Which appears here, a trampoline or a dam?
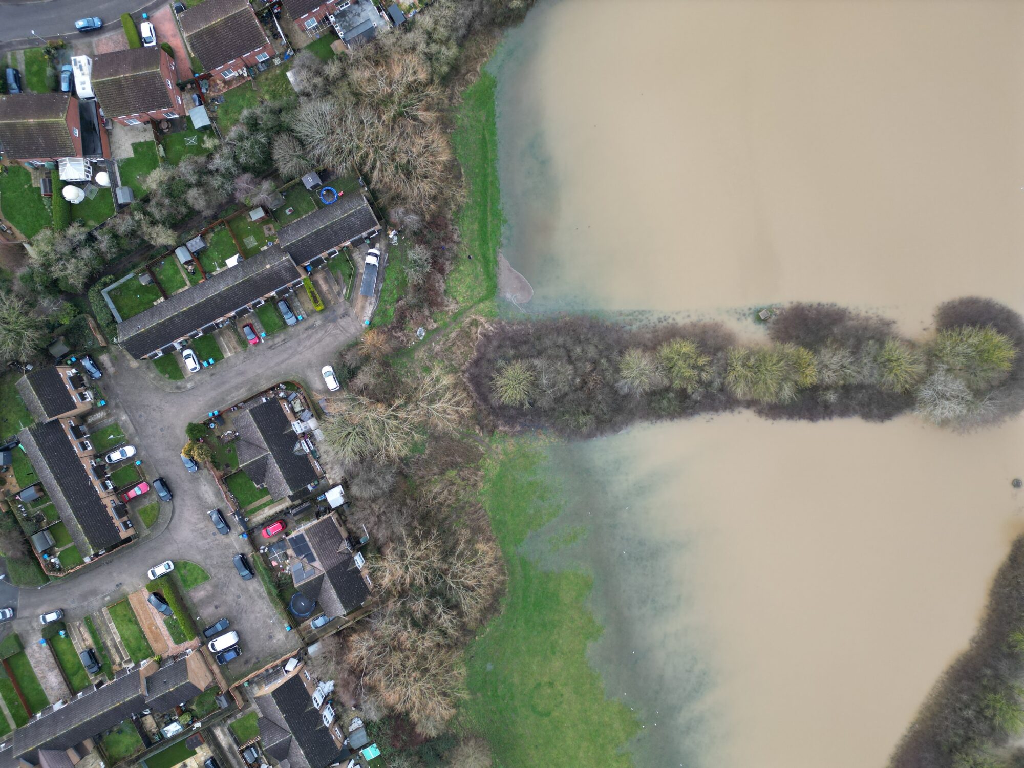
trampoline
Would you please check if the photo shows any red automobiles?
Yes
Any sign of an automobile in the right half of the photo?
No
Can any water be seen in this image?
Yes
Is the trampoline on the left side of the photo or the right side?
left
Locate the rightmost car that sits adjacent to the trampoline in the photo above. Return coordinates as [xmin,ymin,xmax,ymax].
[310,614,336,631]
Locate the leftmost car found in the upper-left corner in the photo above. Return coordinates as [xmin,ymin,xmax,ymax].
[5,67,24,95]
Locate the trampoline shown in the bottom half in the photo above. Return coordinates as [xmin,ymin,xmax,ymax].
[287,591,317,618]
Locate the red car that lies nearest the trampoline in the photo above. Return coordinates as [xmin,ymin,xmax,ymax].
[261,518,288,539]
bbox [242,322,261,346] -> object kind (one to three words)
car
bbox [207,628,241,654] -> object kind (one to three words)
vehicle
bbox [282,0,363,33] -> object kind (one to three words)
house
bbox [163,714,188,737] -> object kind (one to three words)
greenhouse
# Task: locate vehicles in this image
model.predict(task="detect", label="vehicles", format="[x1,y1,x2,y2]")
[203,616,231,640]
[40,607,66,624]
[152,477,174,503]
[60,65,75,93]
[5,67,24,95]
[310,614,336,631]
[231,552,255,582]
[0,606,16,619]
[360,249,380,297]
[208,508,231,536]
[75,16,104,32]
[141,21,158,47]
[148,559,176,580]
[207,628,241,654]
[242,322,261,346]
[79,649,102,674]
[72,56,100,103]
[121,482,151,504]
[322,365,341,392]
[182,347,202,374]
[276,298,298,326]
[81,356,103,381]
[204,754,221,768]
[178,452,199,474]
[261,518,288,539]
[105,444,138,465]
[147,592,174,618]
